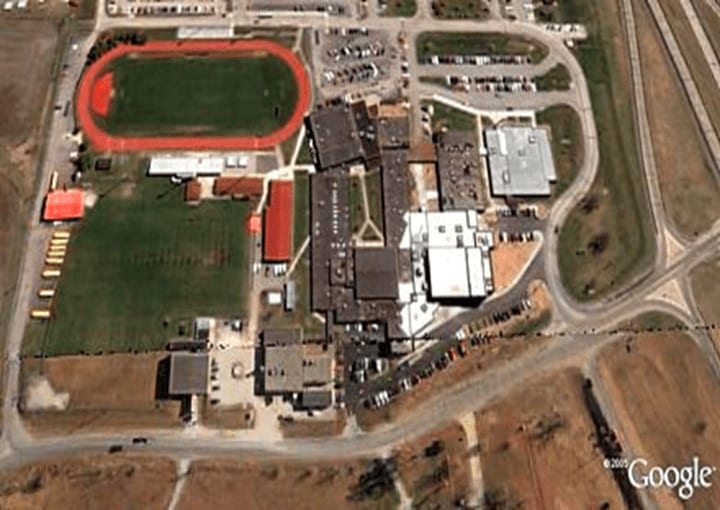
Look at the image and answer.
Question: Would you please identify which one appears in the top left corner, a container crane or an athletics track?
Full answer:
You can see an athletics track in the top left corner.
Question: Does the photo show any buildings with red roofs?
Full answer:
Yes, this view includes a building with a red roof.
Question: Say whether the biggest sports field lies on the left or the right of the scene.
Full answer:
The biggest sports field is on the left side of the image.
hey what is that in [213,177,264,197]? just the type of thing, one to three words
building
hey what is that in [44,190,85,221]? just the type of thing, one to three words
barn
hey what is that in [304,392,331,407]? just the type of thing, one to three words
shed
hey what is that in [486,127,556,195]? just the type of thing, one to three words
building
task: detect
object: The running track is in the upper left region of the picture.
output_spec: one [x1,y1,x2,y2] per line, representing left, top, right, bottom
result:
[77,38,311,152]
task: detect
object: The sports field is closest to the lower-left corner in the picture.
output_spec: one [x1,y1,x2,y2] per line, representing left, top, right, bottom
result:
[24,179,248,357]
